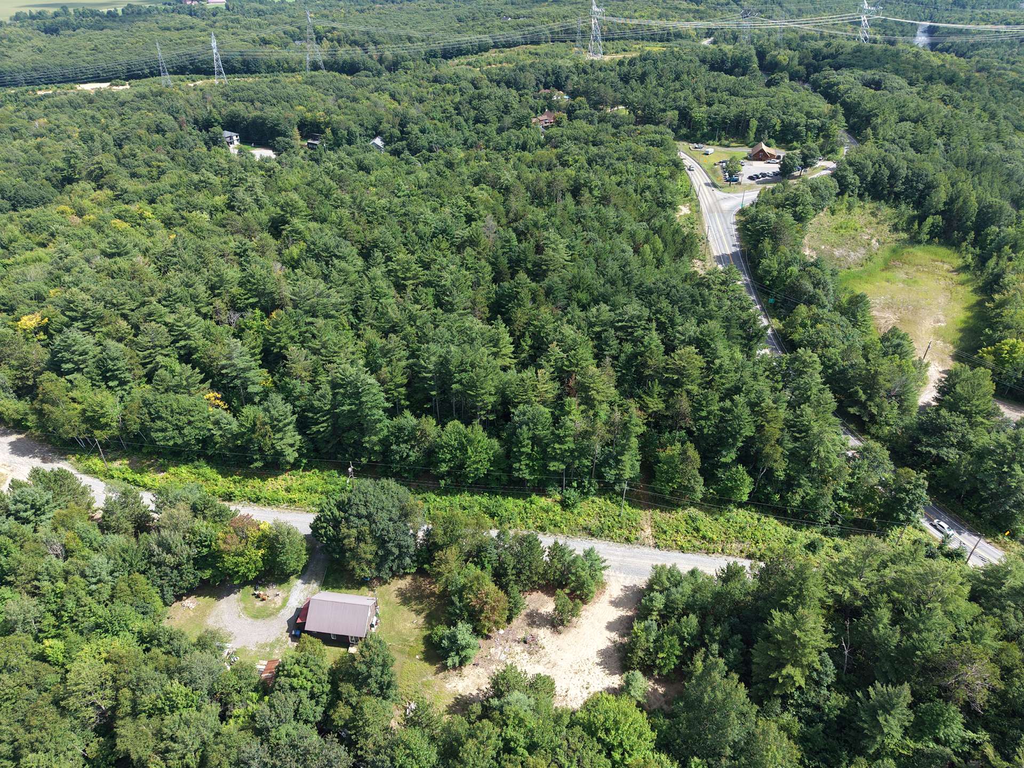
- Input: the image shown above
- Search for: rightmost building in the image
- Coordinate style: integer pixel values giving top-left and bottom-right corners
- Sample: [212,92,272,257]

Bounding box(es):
[742,134,790,159]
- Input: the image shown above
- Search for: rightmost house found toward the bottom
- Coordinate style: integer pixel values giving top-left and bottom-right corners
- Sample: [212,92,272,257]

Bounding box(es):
[294,592,379,661]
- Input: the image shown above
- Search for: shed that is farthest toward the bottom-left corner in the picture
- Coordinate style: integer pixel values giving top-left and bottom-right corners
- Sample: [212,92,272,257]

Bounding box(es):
[254,656,285,693]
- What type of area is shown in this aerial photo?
forest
